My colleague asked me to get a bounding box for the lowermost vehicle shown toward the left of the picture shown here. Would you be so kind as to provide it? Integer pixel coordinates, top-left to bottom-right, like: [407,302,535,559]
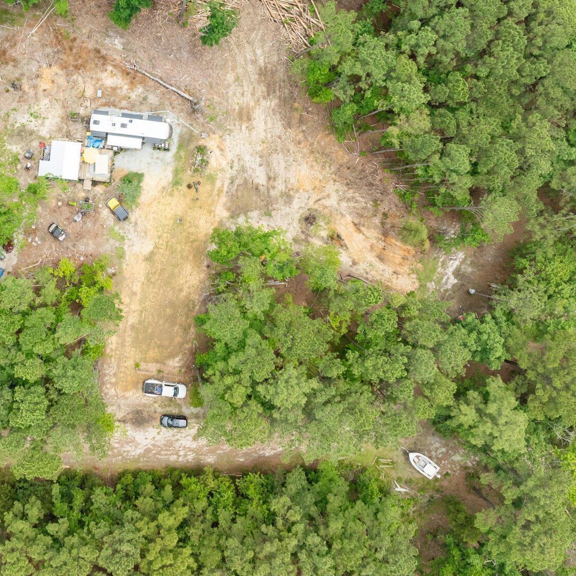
[160,414,188,430]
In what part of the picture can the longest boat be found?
bottom right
